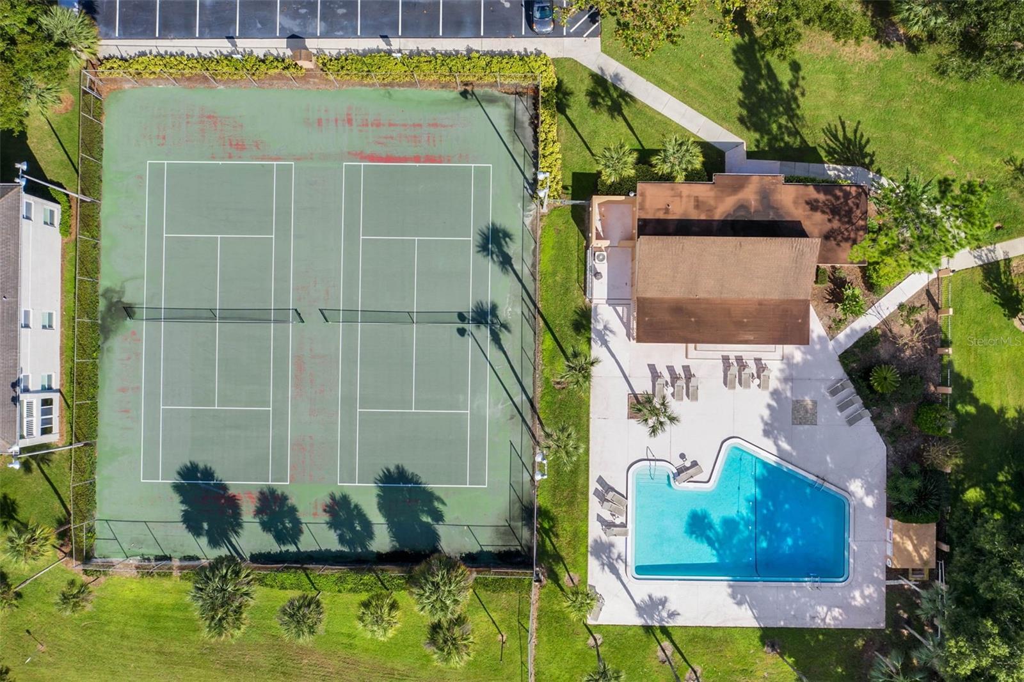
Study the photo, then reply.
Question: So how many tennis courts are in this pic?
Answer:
two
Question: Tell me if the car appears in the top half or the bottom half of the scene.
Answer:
top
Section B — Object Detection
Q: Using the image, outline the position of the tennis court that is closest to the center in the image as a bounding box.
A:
[338,163,492,488]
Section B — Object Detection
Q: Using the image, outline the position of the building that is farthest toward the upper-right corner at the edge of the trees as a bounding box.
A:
[587,174,868,360]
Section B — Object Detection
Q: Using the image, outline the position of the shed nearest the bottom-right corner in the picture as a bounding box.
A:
[886,518,937,568]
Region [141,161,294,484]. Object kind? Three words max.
tennis court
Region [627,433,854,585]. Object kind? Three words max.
swimming pool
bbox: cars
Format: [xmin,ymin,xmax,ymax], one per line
[529,0,558,33]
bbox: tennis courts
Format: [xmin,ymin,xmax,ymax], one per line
[141,161,294,484]
[338,163,492,488]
